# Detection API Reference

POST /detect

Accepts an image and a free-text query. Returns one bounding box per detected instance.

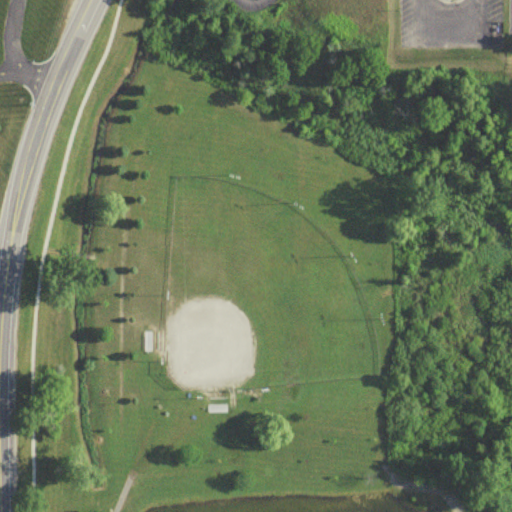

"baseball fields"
[164,178,378,394]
